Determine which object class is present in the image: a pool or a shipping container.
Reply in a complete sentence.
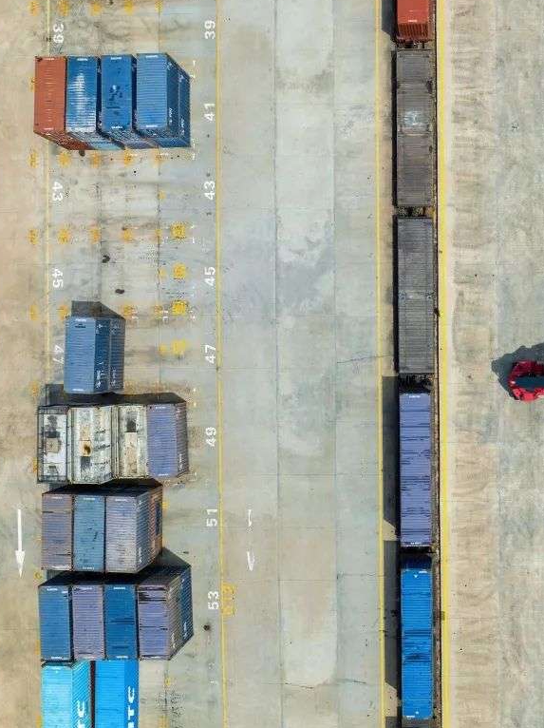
Of the two, only a shipping container appears.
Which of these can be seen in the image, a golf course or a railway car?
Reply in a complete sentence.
It is a railway car that can be seen here.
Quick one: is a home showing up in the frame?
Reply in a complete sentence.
No, no home is visible in the scene.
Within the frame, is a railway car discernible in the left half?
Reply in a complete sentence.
No, there is no railway car in the left half.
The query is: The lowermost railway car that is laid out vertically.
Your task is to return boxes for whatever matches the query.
[400,546,436,707]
